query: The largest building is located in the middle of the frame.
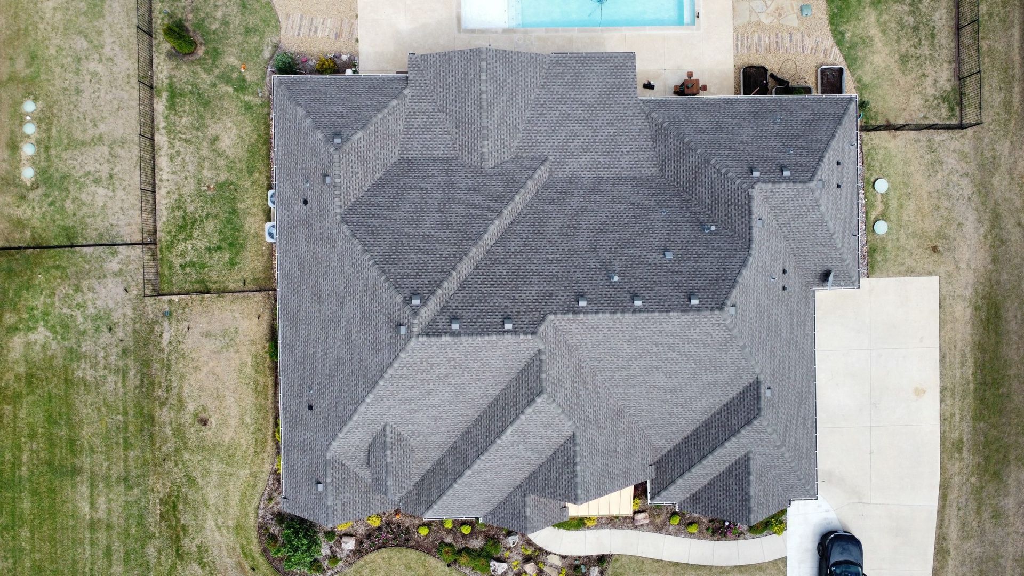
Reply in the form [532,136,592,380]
[272,48,861,534]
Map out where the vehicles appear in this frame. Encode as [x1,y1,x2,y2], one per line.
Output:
[815,530,867,576]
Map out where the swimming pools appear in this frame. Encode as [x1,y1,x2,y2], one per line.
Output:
[455,0,701,34]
